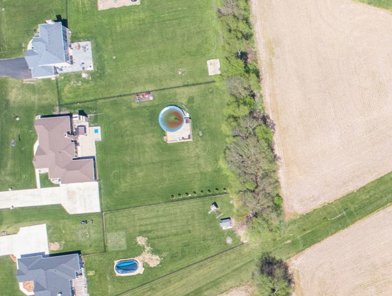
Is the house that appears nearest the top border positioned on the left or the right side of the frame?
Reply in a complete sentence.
The house that appears nearest the top border appears in the left half of the scene.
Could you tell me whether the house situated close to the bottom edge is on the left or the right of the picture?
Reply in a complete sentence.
The house situated close to the bottom edge appears in the left half of the scene.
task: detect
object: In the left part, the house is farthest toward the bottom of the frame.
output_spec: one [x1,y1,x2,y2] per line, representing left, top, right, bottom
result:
[16,252,83,296]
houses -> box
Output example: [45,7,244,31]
[34,116,98,184]
[26,18,73,78]
[16,252,83,296]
